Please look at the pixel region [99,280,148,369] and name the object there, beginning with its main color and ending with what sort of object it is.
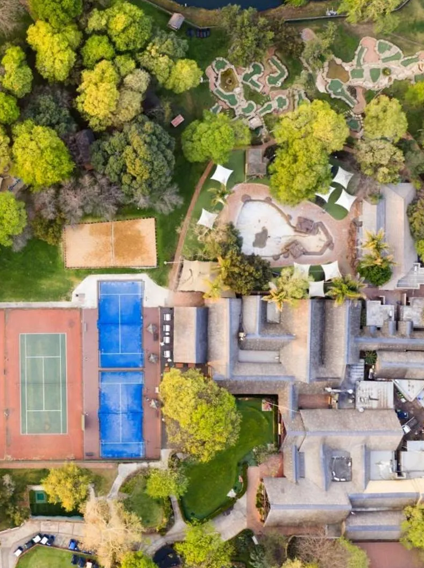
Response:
blue sports court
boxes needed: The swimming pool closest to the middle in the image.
[234,197,332,257]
